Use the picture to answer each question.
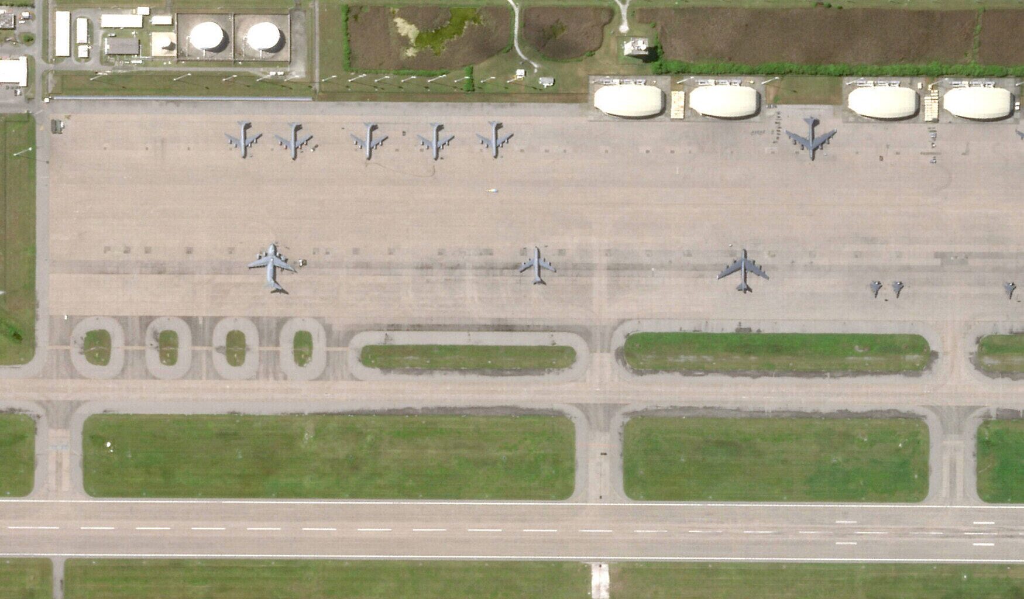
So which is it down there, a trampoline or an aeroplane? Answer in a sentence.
Looking from above, you can make out an aeroplane.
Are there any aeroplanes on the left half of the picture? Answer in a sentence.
Yes, you'll find an aeroplane on the left half of the picture.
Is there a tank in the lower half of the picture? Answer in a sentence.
No, there's no tank to be seen in the lower half of the picture.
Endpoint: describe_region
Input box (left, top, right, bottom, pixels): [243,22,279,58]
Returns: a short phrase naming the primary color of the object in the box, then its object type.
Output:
white storage tank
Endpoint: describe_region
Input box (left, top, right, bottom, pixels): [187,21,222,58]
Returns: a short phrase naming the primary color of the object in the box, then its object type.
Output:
white storage tank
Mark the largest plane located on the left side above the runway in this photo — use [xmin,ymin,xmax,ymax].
[249,244,296,291]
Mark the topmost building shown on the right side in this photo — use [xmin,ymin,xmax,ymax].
[624,37,649,55]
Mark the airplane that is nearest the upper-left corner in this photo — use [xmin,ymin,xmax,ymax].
[225,118,261,157]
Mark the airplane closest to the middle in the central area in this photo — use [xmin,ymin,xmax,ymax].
[519,247,555,284]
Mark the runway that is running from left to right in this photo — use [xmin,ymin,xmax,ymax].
[0,501,1024,561]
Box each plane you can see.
[519,247,555,284]
[478,118,514,156]
[892,281,904,297]
[786,115,837,159]
[275,119,311,158]
[418,120,454,158]
[870,281,882,296]
[225,118,261,157]
[249,244,296,291]
[351,119,387,158]
[718,249,769,292]
[1005,282,1016,299]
